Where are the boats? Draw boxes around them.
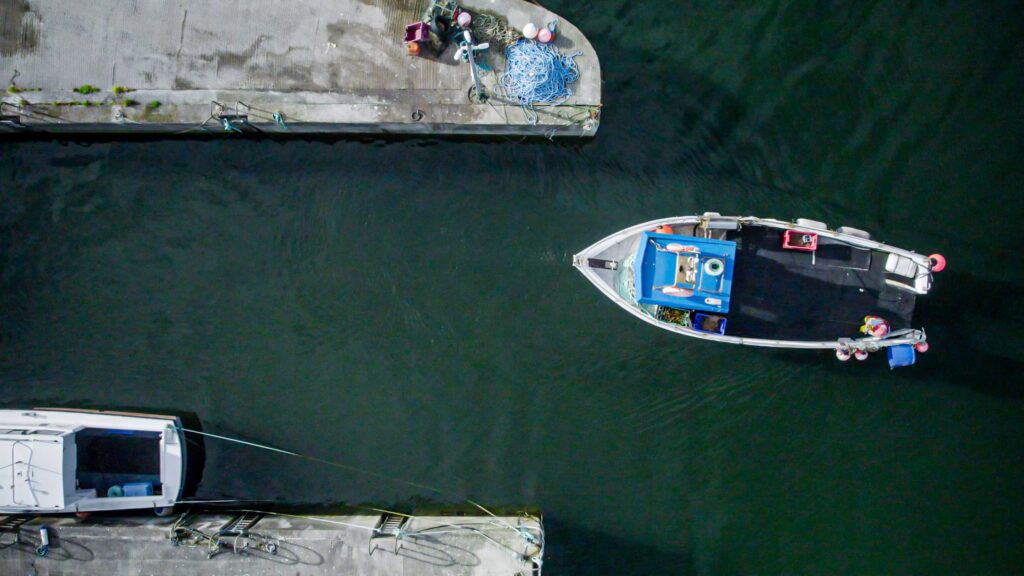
[573,215,935,350]
[0,406,207,513]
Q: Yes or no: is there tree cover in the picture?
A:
No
